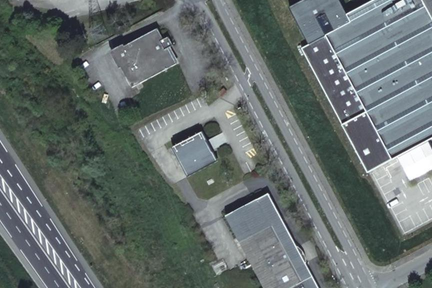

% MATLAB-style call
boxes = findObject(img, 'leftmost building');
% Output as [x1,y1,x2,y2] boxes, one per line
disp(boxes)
[111,28,178,88]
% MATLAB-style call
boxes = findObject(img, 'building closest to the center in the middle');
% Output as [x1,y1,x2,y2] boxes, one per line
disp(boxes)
[172,132,216,176]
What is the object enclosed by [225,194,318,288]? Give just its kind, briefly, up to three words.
building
